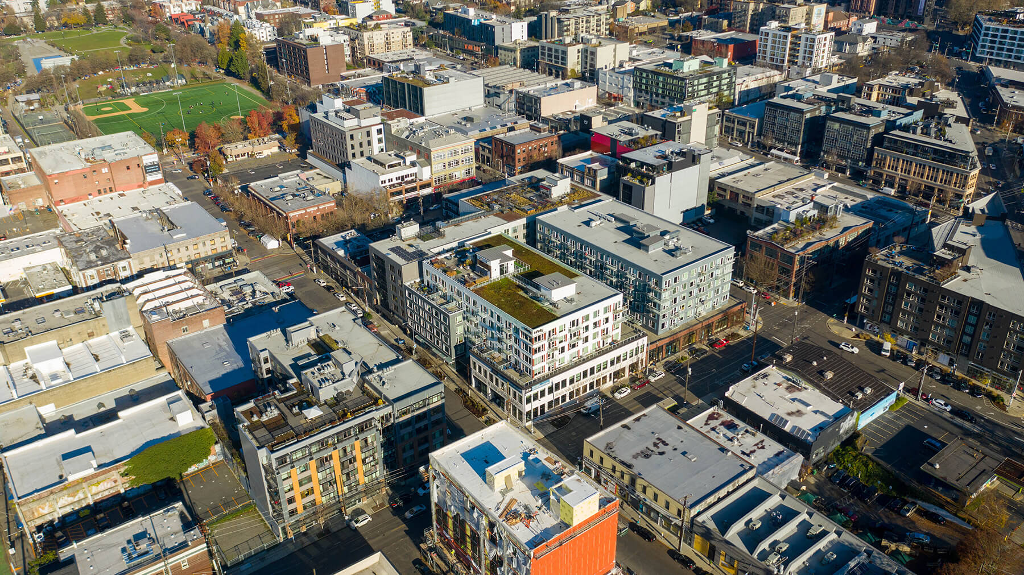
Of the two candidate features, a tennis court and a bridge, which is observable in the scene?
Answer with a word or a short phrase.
tennis court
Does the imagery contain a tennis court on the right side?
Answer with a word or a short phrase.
No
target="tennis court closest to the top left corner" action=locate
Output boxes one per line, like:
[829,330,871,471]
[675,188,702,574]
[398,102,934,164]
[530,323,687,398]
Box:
[21,108,78,147]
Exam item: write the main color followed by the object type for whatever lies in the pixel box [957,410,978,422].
black vehicle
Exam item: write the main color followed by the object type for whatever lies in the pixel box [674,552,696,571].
black car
